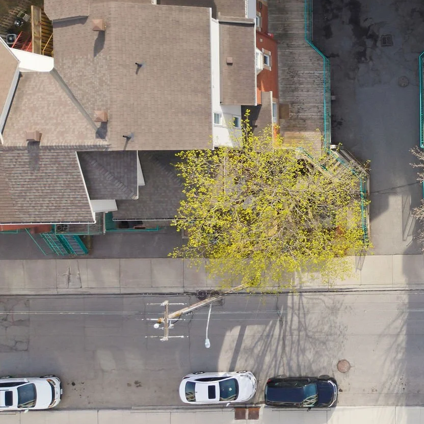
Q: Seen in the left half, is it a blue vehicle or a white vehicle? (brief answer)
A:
white vehicle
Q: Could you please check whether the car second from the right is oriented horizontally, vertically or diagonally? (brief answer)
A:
horizontally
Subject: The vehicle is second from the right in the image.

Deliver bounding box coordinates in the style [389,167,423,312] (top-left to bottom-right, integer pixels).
[180,370,260,409]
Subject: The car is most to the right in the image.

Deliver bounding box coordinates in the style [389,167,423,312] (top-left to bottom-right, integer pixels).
[264,372,340,412]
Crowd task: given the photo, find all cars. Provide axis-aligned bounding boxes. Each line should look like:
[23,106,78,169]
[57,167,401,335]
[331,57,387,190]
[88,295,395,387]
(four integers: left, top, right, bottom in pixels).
[180,370,260,409]
[264,372,340,412]
[0,374,67,414]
